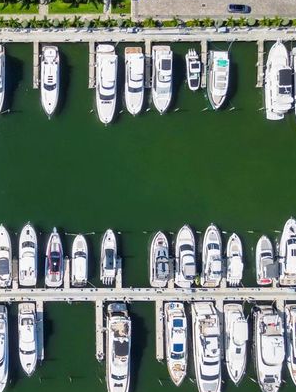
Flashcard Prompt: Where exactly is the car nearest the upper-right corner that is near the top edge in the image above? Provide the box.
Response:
[226,3,250,15]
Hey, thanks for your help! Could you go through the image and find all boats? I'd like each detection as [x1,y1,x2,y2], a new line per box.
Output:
[287,41,296,125]
[221,303,251,387]
[12,304,39,380]
[69,233,93,288]
[200,223,223,289]
[260,39,295,121]
[275,217,296,285]
[41,228,66,289]
[150,40,176,115]
[38,41,62,121]
[0,304,10,392]
[124,42,147,117]
[254,234,277,288]
[183,43,205,90]
[280,304,296,386]
[160,303,189,388]
[93,40,120,126]
[104,303,132,392]
[224,232,248,290]
[0,42,8,111]
[96,228,120,289]
[0,223,13,288]
[16,221,40,290]
[171,224,197,289]
[205,42,233,112]
[246,303,292,392]
[148,230,174,289]
[190,303,223,392]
